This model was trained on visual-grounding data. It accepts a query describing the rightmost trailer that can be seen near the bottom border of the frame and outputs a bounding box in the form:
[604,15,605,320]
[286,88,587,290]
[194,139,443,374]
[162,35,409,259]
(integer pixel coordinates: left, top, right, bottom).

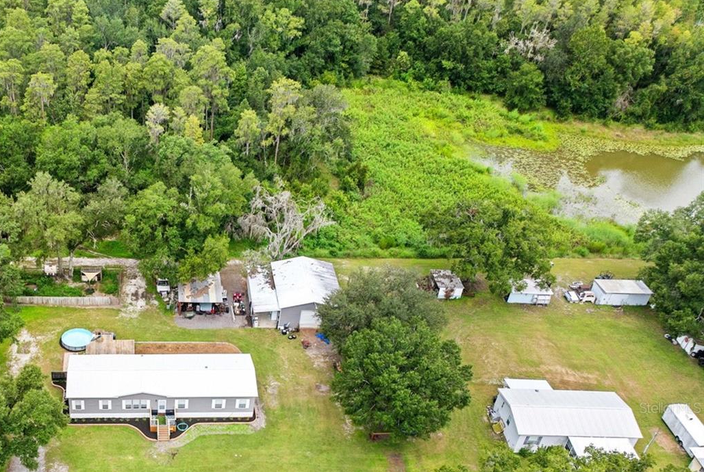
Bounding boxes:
[664,402,704,450]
